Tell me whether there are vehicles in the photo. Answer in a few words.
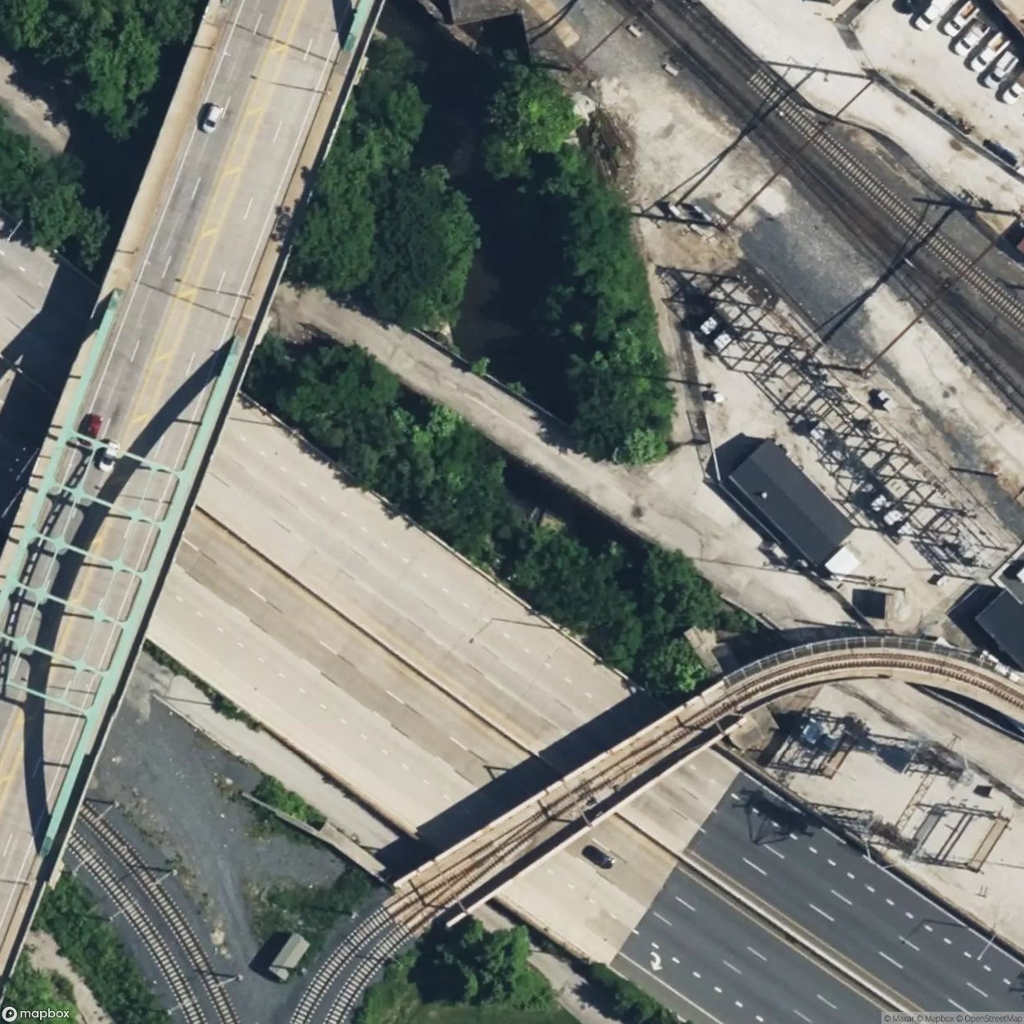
Yes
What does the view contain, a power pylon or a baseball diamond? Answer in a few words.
power pylon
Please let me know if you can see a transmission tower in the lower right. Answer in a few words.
Yes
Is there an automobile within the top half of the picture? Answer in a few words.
Yes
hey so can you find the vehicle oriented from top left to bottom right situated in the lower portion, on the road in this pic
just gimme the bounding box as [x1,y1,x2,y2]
[583,843,617,871]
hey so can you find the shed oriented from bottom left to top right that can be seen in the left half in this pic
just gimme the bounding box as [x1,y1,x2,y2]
[270,934,310,980]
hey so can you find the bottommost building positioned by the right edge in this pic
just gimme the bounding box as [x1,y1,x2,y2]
[975,590,1024,668]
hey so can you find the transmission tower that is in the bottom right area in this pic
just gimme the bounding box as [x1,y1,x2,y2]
[830,804,899,856]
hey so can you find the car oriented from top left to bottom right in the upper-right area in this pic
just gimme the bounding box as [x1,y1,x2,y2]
[984,139,1017,167]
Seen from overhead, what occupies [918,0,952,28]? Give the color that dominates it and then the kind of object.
white truck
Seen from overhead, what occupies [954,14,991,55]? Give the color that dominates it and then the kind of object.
white truck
